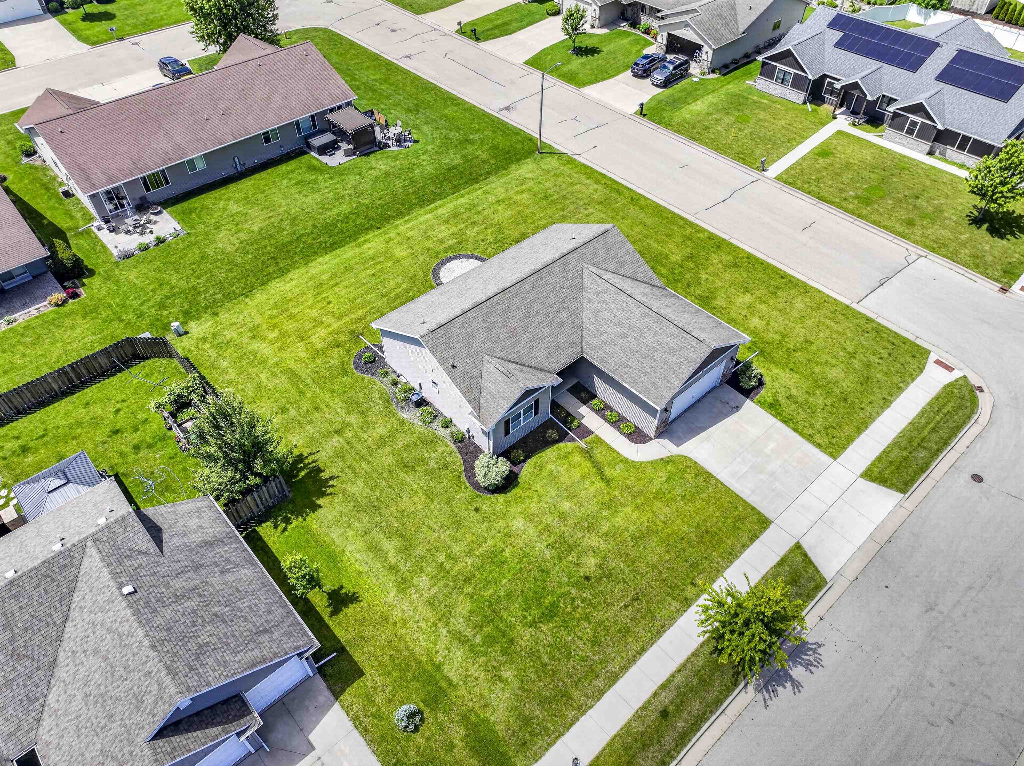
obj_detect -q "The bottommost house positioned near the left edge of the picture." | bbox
[0,475,328,766]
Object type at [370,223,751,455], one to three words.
house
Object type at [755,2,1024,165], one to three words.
house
